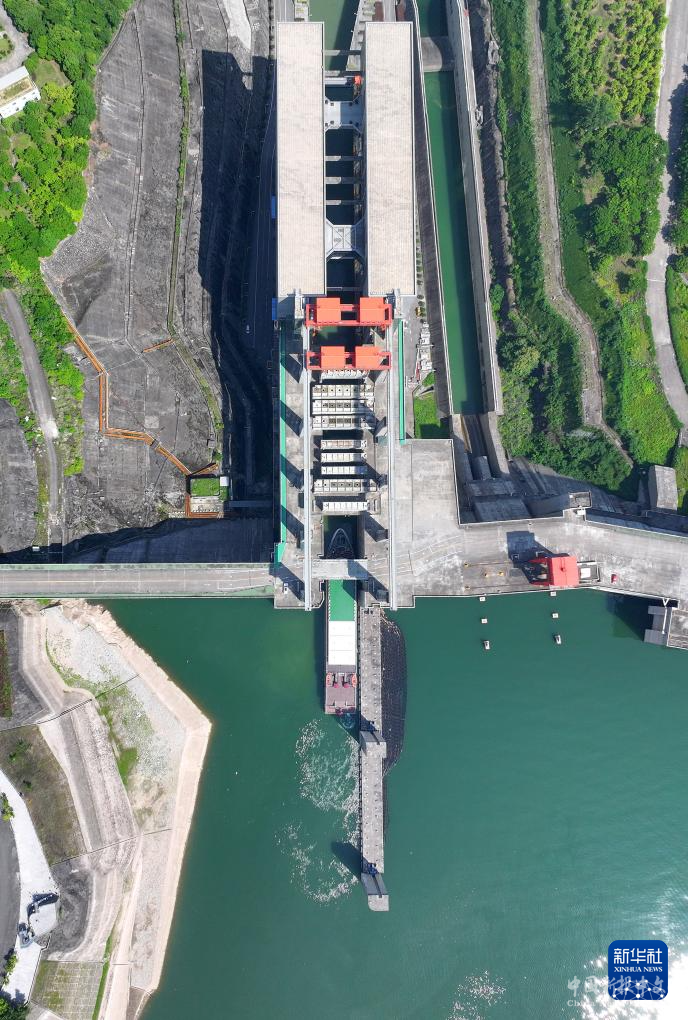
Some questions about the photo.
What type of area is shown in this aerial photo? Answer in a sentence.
The picture captures a port.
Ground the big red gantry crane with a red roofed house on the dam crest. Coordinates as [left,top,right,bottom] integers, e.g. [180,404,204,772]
[522,556,601,586]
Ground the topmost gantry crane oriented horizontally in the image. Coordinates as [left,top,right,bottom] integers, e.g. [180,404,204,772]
[305,298,392,327]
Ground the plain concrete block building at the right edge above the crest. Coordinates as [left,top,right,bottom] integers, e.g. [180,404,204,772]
[646,466,678,512]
